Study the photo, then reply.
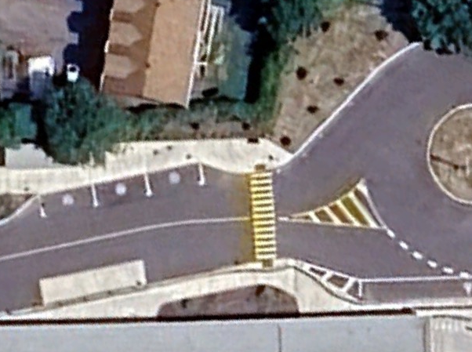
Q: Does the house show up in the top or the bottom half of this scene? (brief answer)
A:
top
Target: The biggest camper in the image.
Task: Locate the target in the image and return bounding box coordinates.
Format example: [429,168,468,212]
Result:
[27,47,55,92]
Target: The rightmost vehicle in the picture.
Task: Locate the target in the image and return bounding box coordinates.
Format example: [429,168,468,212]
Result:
[66,60,80,83]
